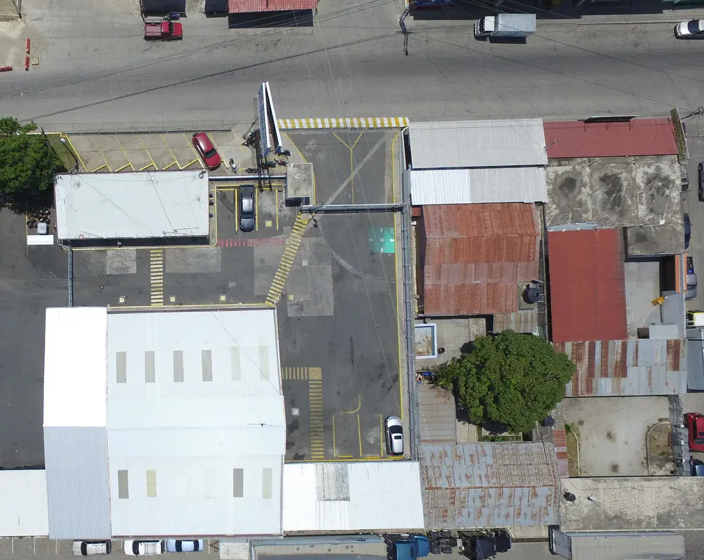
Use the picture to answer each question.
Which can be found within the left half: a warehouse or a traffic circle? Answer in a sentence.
The one visible within the left half is a warehouse.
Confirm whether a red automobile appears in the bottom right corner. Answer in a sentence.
Yes, you'll find a red automobile in the bottom right corner.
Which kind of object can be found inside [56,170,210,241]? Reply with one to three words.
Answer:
building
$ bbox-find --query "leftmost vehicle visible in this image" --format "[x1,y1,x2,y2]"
[72,539,111,558]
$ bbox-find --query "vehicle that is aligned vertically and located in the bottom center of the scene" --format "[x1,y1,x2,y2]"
[385,416,404,454]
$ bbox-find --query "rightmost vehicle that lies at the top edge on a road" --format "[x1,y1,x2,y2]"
[673,21,704,40]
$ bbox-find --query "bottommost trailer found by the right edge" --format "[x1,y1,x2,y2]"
[552,526,673,559]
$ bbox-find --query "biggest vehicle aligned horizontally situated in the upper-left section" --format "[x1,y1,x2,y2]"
[143,22,182,40]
